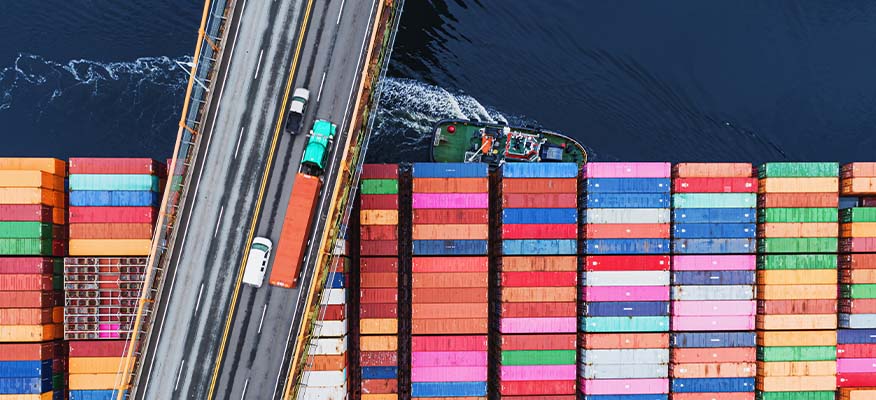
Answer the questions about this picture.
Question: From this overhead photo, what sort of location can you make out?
port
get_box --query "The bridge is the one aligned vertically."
[110,0,405,400]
